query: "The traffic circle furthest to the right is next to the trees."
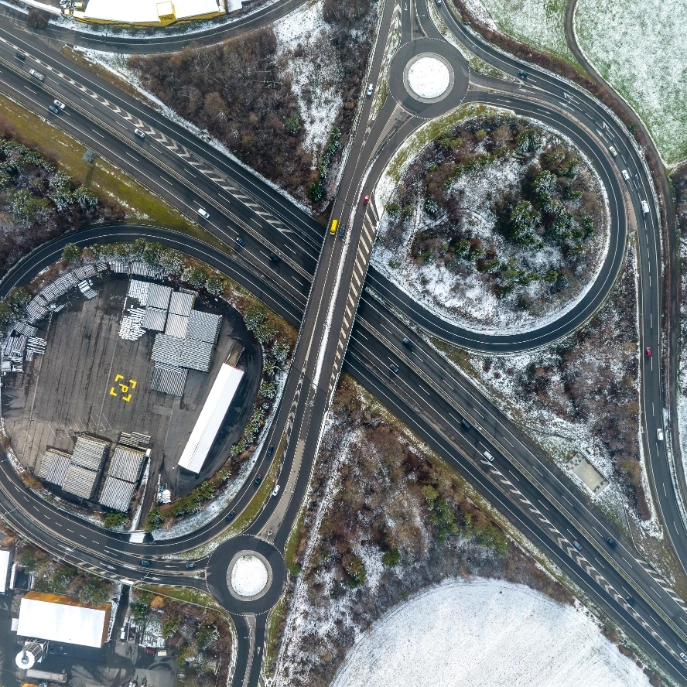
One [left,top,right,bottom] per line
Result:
[390,39,469,117]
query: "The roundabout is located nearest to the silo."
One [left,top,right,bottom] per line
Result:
[207,535,286,614]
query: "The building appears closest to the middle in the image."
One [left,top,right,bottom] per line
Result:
[178,362,247,474]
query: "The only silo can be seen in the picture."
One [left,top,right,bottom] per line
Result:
[15,637,53,665]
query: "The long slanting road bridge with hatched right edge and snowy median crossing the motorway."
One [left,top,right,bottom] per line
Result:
[286,193,381,397]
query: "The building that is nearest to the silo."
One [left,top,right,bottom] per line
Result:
[11,592,112,648]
